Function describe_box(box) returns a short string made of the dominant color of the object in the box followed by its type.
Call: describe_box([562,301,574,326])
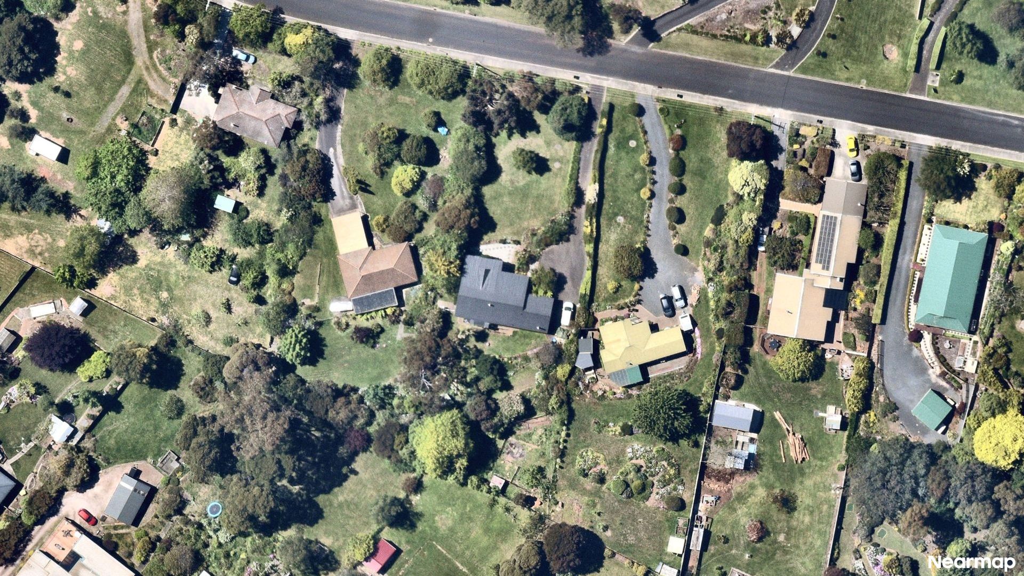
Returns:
white vehicle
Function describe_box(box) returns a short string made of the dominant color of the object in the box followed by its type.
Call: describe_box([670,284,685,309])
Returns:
white car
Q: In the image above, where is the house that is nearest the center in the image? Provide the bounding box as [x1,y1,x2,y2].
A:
[456,254,554,333]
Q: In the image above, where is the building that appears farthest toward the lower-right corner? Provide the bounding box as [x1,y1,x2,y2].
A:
[913,387,952,430]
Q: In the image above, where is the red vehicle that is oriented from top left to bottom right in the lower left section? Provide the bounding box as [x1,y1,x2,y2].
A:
[76,508,99,528]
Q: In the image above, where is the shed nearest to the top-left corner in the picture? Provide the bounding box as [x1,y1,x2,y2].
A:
[30,133,61,162]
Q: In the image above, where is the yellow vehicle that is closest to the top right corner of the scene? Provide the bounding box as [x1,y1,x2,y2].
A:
[846,135,858,157]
